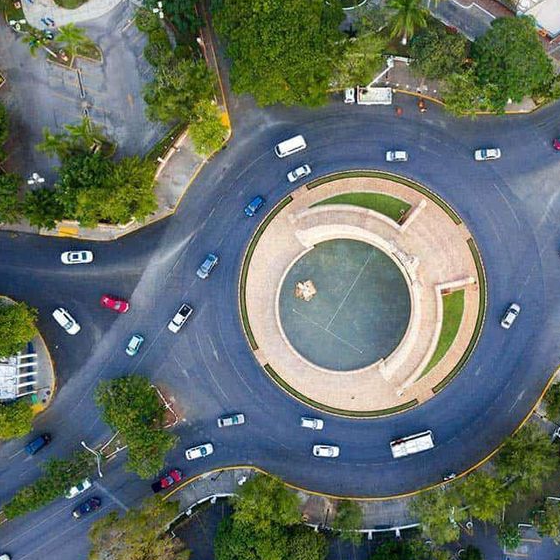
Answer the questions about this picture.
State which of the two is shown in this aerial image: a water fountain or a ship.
water fountain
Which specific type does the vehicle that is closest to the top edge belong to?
truck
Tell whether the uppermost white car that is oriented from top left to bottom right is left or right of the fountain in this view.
left of it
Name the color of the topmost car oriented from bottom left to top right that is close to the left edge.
blue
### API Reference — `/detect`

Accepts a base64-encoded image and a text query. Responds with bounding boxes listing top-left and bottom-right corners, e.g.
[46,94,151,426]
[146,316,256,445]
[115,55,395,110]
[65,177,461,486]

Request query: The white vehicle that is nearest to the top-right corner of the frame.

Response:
[473,147,500,161]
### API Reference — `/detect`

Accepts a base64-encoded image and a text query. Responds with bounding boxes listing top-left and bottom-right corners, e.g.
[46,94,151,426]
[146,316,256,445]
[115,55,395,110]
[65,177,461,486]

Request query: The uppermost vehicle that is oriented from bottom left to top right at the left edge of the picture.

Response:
[24,431,53,454]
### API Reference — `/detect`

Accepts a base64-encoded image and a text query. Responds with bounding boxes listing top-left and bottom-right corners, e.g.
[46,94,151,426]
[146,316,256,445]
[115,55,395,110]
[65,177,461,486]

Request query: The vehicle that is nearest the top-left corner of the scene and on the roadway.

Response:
[61,249,94,264]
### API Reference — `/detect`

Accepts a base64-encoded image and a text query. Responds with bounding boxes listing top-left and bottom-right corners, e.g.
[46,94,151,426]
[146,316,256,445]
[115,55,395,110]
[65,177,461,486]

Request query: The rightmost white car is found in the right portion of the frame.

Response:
[500,301,519,330]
